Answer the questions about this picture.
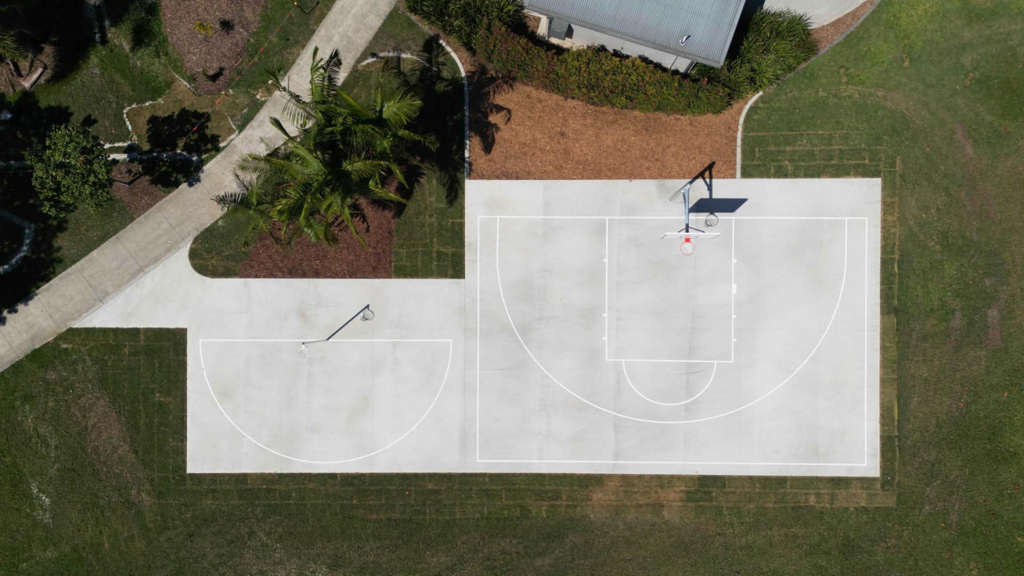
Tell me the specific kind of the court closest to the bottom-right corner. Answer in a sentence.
Looking closely, the court closest to the bottom-right corner is a basketball court.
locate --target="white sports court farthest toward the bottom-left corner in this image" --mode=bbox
[187,328,464,473]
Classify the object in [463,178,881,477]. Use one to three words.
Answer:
basketball court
